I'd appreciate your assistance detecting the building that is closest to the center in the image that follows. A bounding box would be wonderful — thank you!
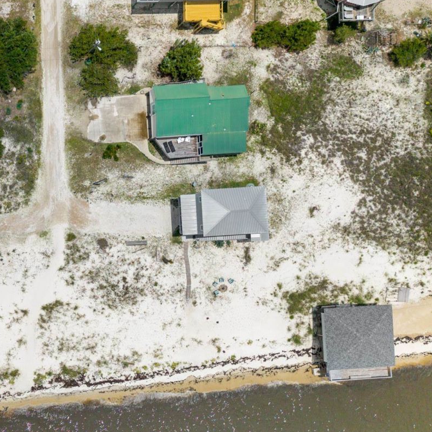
[172,186,269,242]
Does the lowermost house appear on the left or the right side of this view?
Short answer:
right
